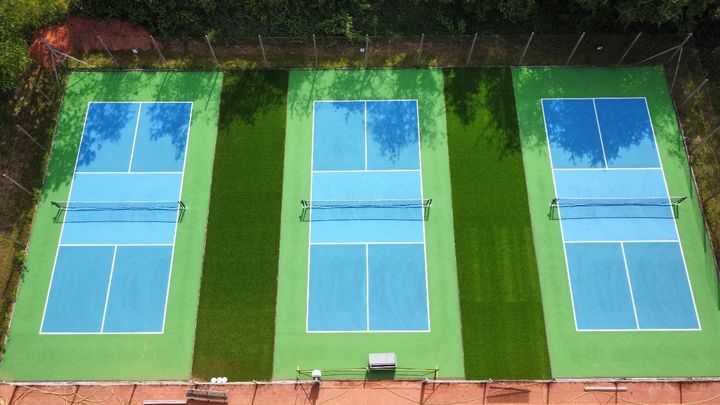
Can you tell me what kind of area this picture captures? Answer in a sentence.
This image shows a sports ground.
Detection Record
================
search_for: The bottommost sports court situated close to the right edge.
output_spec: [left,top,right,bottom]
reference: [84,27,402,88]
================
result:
[513,65,720,378]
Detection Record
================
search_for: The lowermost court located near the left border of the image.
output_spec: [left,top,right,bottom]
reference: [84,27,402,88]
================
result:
[0,70,222,382]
